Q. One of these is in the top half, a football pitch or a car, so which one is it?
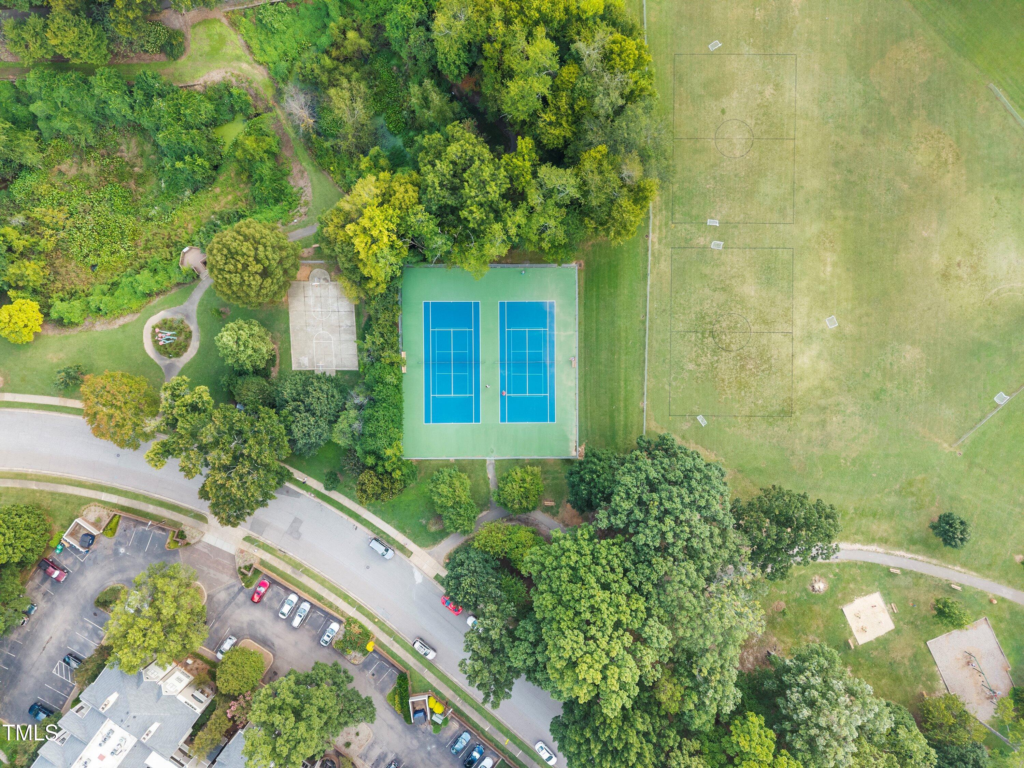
football pitch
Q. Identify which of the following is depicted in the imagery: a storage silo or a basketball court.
basketball court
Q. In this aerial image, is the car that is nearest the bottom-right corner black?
No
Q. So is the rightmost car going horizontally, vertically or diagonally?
diagonally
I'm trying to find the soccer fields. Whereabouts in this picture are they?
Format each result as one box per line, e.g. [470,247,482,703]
[672,54,797,224]
[669,247,794,417]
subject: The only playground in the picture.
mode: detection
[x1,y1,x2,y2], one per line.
[927,617,1016,722]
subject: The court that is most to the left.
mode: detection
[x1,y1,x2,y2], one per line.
[288,268,358,379]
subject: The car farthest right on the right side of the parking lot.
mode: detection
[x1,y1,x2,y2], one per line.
[535,740,555,764]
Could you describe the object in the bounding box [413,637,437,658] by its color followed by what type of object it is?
white car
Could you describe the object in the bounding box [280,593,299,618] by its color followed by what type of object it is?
white car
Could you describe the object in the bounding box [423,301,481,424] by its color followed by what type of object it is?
blue tennis court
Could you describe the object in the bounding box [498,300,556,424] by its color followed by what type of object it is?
blue tennis court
